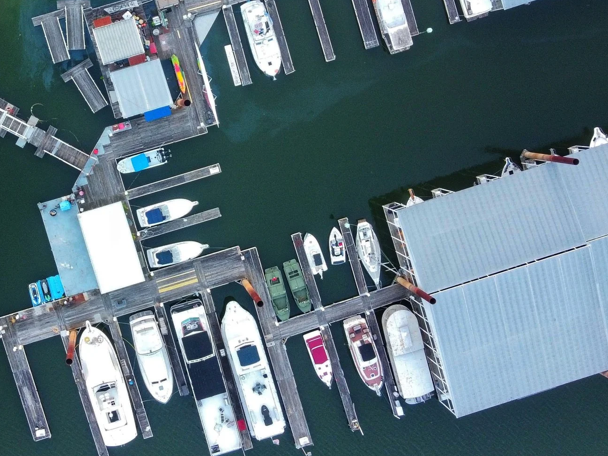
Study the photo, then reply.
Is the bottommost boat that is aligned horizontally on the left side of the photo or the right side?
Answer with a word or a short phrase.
left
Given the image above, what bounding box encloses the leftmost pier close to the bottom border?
[1,338,51,442]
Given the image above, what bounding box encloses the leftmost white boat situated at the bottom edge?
[77,320,137,447]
